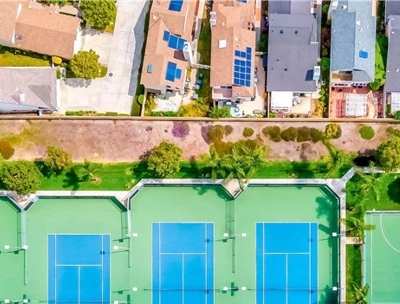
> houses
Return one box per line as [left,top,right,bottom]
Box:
[328,0,375,88]
[141,0,196,97]
[0,0,83,61]
[381,0,400,98]
[210,0,255,98]
[267,0,321,97]
[0,68,61,112]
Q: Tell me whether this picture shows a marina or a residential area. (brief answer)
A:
residential area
